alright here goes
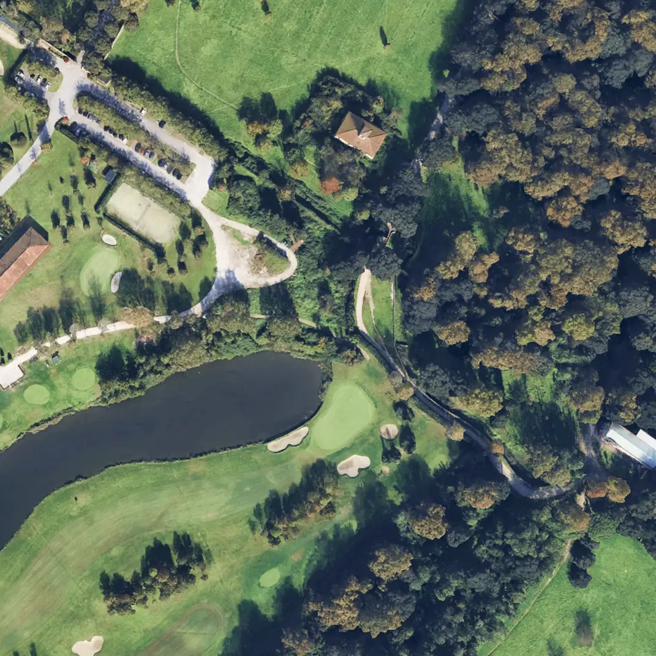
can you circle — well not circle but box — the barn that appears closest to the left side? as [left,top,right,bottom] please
[0,226,48,298]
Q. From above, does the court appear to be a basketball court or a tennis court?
tennis court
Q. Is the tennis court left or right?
left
